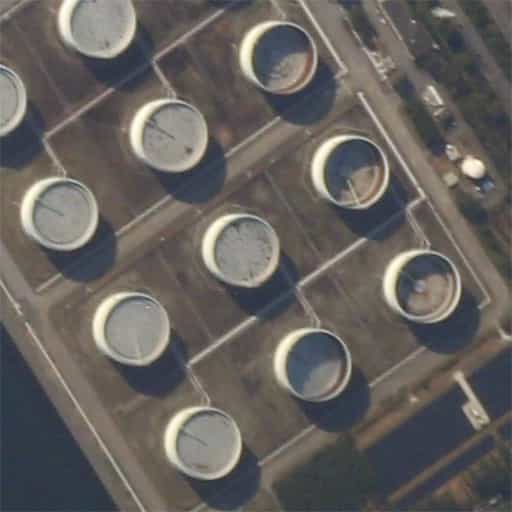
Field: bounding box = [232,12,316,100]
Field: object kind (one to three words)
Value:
storage tank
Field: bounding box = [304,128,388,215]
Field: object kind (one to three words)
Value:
storage tank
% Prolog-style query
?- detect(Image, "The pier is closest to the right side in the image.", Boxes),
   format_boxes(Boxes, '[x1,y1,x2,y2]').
[455,371,490,429]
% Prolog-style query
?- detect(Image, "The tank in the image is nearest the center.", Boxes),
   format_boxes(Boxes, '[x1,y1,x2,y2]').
[194,205,278,293]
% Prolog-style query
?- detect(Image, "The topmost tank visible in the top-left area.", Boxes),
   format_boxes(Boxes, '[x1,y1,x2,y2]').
[50,0,136,64]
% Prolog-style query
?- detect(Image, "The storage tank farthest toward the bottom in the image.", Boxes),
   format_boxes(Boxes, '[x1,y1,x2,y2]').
[157,396,242,484]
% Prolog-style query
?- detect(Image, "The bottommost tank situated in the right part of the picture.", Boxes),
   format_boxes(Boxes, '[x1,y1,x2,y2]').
[266,320,350,407]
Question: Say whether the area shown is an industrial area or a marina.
industrial area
